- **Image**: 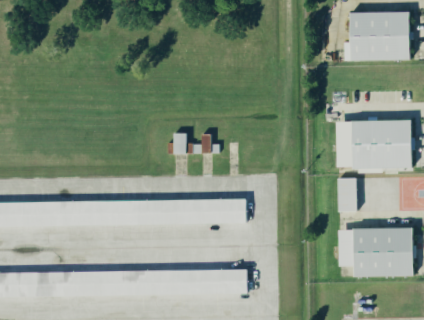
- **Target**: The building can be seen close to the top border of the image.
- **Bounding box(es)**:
[344,12,415,62]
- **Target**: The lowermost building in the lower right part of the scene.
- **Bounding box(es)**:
[338,228,417,277]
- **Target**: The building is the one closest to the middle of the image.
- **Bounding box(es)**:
[194,134,221,154]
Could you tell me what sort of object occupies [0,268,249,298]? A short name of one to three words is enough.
building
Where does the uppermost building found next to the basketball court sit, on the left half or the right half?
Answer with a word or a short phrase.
right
